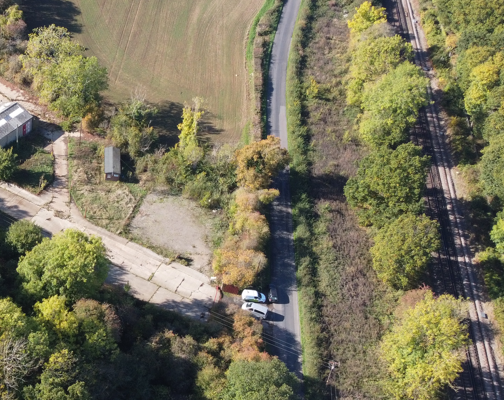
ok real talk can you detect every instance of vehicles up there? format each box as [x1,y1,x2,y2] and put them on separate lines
[241,289,267,304]
[240,303,270,321]
[264,284,282,305]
